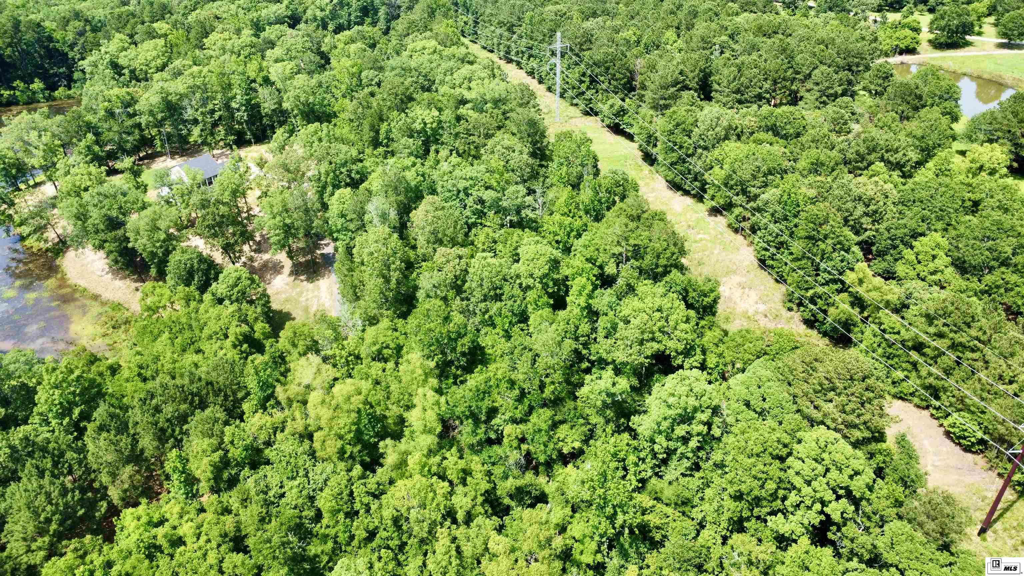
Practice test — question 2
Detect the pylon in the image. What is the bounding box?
[547,32,571,123]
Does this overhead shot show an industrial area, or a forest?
forest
